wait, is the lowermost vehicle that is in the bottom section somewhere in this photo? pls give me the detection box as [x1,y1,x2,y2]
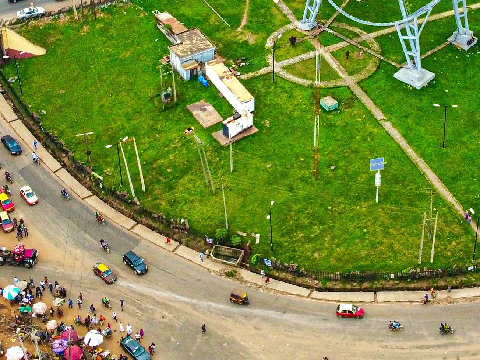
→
[121,333,149,360]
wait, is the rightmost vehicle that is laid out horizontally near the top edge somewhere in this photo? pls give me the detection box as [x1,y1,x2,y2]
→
[17,5,44,19]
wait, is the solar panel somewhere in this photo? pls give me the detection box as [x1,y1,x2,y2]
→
[369,155,388,171]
